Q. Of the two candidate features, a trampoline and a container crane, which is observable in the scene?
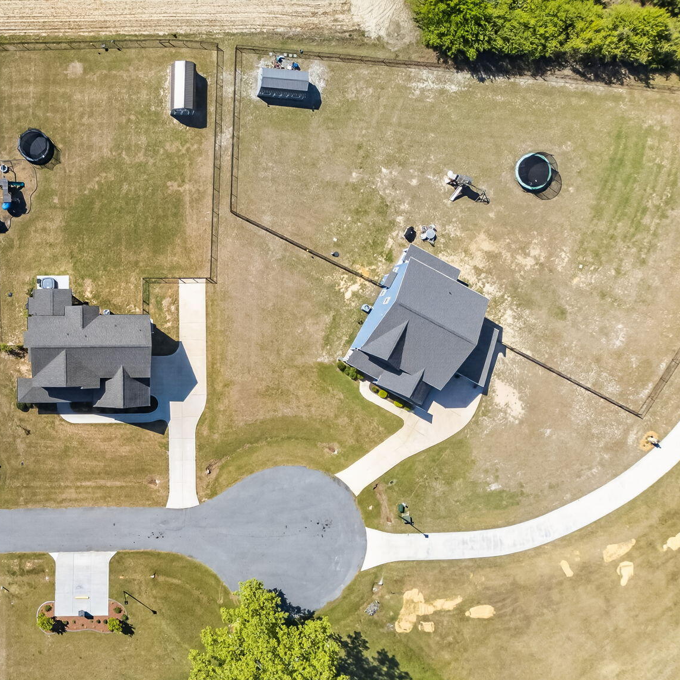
trampoline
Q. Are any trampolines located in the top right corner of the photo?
Yes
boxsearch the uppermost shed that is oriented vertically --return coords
[169,61,197,116]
